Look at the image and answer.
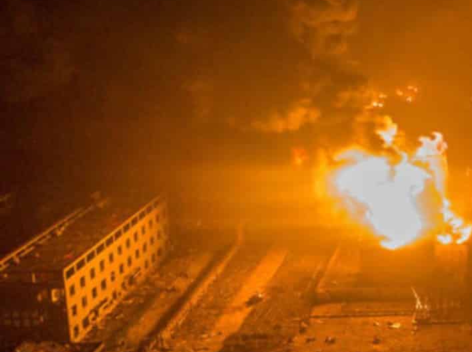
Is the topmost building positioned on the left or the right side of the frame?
left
